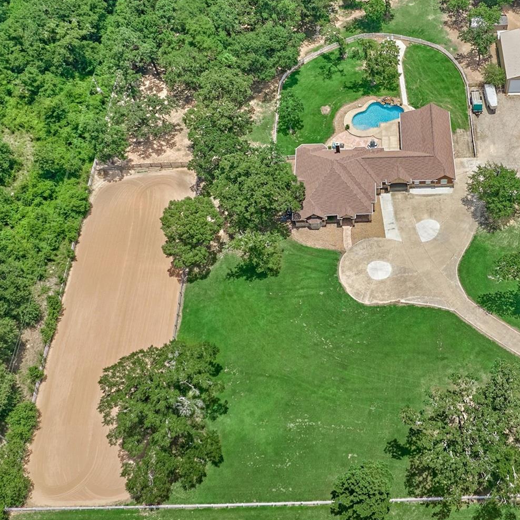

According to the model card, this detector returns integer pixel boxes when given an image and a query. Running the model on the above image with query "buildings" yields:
[289,104,456,231]
[486,7,511,27]
[500,28,520,97]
